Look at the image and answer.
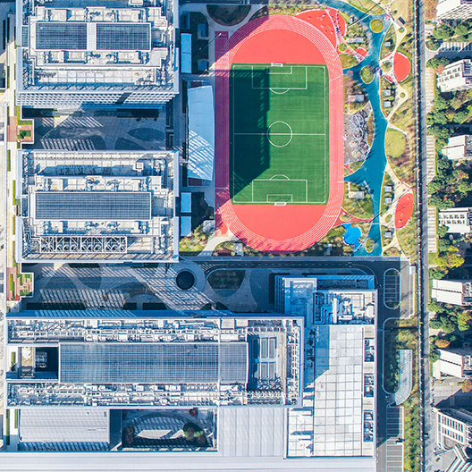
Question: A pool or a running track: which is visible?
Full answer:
There is a running track in the scene.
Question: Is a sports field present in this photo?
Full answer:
Yes, the frame does contain a sports field.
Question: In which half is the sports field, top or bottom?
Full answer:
The sports field sits in the top half of the picture.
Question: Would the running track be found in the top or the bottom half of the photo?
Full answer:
The top half of the photo is where the running track is.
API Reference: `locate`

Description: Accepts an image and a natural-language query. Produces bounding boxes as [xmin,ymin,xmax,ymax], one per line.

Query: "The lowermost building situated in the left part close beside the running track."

[6,309,303,408]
